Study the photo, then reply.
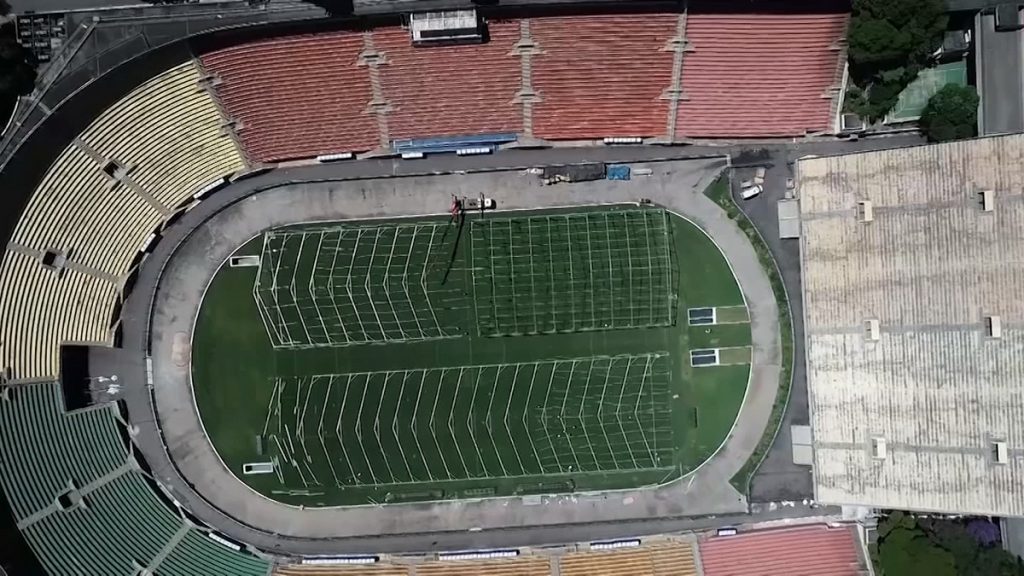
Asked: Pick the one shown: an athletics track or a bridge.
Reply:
athletics track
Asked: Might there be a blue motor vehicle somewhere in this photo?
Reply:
No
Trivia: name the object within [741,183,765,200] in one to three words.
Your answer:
vehicle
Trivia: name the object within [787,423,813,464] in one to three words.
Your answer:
shed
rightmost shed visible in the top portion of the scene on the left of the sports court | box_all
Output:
[836,114,867,133]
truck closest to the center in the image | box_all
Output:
[423,190,495,275]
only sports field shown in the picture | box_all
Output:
[191,204,752,508]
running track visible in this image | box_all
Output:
[148,155,781,538]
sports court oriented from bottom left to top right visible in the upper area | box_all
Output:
[884,59,967,123]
